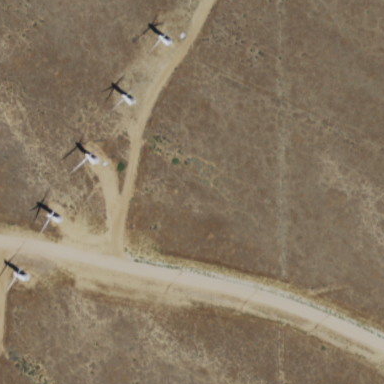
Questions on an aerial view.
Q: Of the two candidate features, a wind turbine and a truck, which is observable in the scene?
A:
wind turbine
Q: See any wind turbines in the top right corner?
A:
No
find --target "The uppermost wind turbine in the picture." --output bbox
[144,29,174,58]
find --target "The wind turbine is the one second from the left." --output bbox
[43,194,65,228]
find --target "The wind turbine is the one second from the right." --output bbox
[113,80,143,108]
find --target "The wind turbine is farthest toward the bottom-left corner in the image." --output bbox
[8,256,32,294]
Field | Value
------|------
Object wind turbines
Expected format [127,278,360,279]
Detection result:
[70,148,102,176]
[43,194,65,228]
[113,80,143,108]
[8,256,32,294]
[144,29,174,58]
